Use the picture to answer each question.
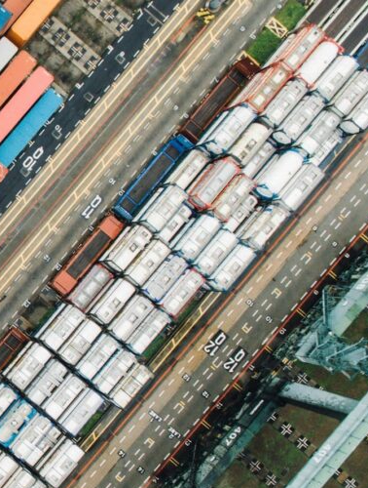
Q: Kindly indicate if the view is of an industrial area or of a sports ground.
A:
industrial area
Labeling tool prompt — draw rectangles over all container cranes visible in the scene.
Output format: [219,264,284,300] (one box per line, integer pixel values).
[169,351,368,488]
[277,252,368,386]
